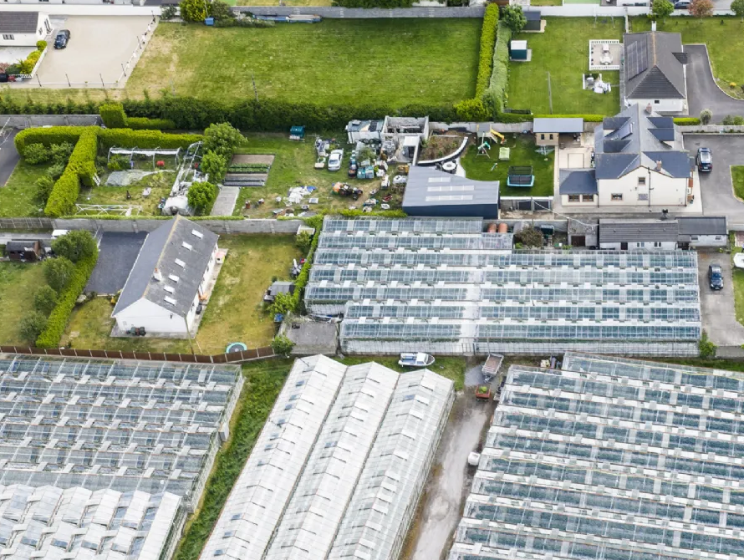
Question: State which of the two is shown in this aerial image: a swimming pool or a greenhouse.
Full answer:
The image shows a greenhouse.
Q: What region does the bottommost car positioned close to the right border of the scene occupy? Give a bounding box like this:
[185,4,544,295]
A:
[706,262,724,287]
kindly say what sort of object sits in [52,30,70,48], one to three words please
car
